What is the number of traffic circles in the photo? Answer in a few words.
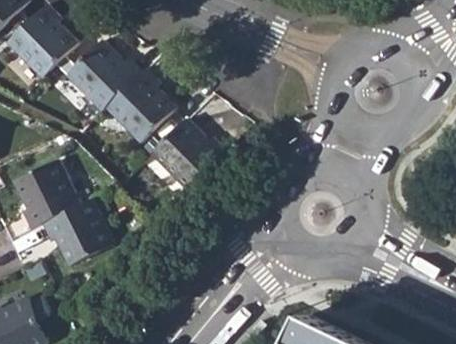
two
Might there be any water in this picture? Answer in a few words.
No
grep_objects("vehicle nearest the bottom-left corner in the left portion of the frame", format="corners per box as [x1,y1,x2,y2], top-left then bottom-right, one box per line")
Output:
[0,252,17,268]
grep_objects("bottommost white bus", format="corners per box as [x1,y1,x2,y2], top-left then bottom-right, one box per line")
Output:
[208,304,258,344]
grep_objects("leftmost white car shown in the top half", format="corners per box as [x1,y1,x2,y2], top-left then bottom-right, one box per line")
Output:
[314,120,330,142]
